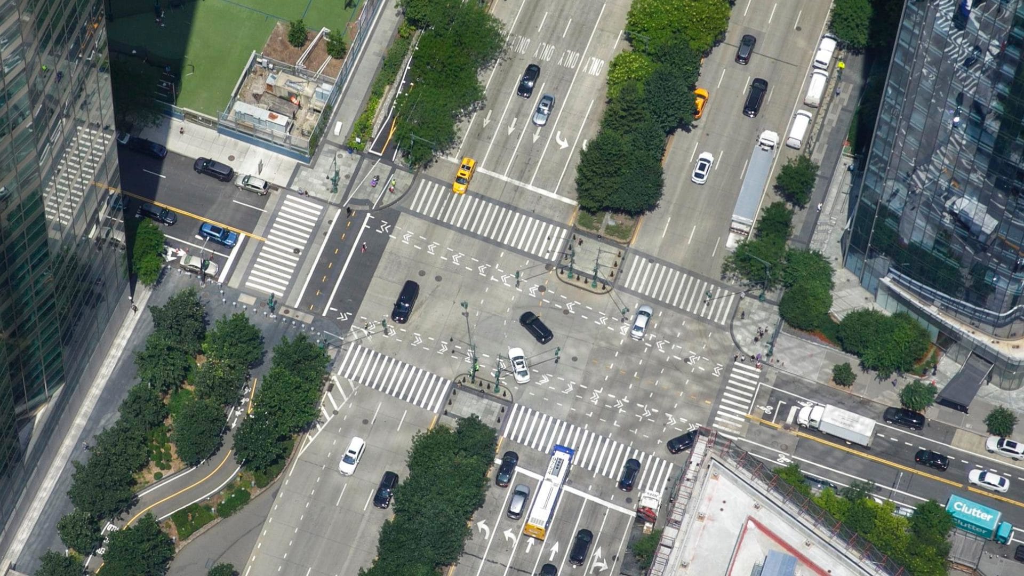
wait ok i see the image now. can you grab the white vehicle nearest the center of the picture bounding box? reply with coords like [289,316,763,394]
[508,349,529,385]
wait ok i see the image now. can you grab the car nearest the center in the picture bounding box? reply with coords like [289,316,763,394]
[520,312,553,345]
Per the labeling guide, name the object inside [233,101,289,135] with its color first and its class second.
white shipping container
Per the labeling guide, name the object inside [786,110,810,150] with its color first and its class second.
white vehicle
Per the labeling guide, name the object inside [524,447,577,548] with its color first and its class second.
white bus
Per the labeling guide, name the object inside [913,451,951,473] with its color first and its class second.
black car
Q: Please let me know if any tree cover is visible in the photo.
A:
Yes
